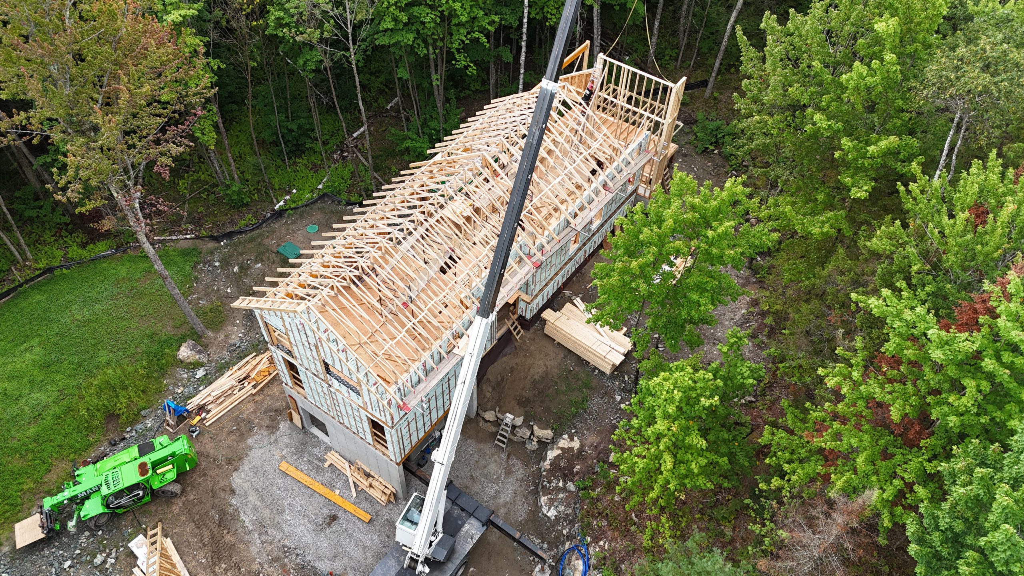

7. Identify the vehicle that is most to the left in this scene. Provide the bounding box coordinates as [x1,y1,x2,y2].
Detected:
[39,426,202,547]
